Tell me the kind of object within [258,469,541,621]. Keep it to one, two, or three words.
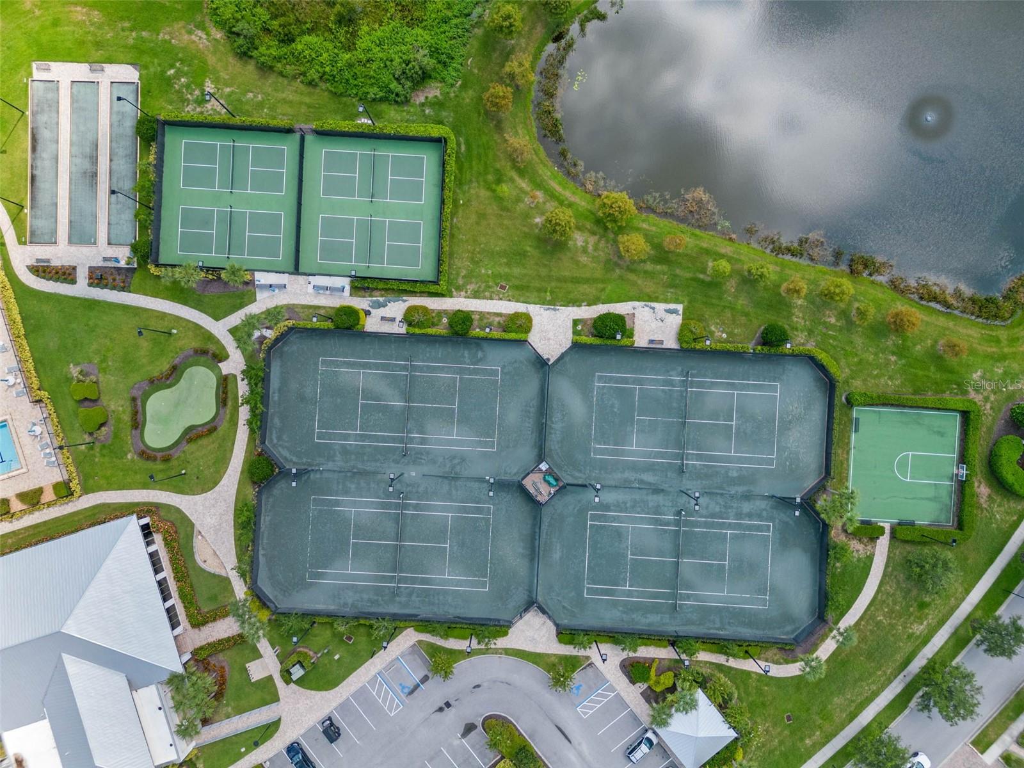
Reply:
tennis court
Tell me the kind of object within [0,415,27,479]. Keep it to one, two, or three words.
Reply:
swimming pool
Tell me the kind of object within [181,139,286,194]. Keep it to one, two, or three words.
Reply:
sports court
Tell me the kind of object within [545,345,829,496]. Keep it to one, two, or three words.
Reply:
tennis court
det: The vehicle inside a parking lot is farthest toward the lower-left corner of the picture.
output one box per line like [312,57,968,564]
[287,743,317,768]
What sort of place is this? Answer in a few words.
sports ground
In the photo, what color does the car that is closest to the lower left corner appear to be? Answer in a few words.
blue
